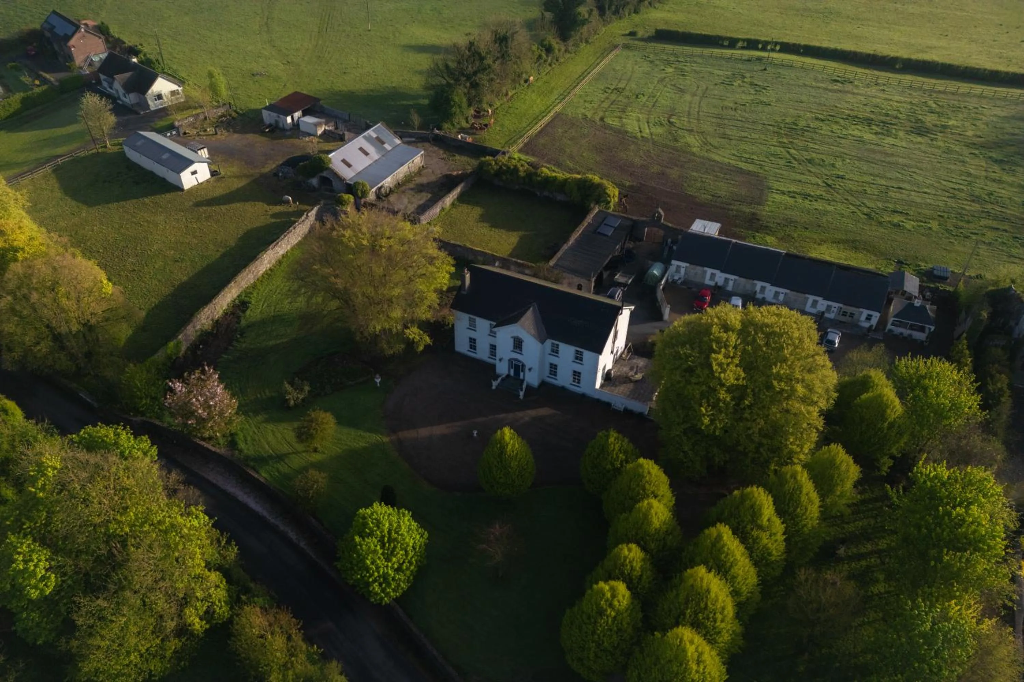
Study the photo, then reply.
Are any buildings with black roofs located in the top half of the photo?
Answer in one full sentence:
Yes, a building with a black roof shows up in the top half of the photo.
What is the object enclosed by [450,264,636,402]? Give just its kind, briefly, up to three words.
house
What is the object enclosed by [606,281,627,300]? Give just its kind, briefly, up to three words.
car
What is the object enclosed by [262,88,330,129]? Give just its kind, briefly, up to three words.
shed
